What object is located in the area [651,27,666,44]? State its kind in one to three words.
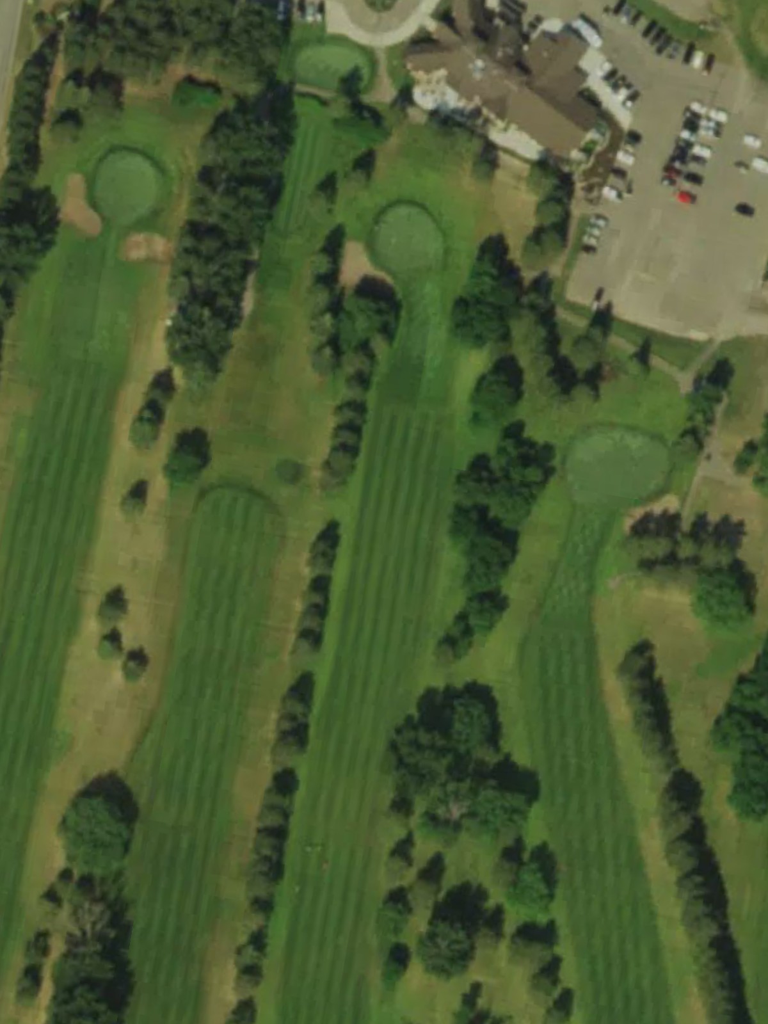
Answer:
car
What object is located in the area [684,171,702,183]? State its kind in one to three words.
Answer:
vehicle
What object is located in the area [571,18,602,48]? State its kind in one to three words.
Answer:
bus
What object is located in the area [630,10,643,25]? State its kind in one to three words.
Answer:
vehicle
